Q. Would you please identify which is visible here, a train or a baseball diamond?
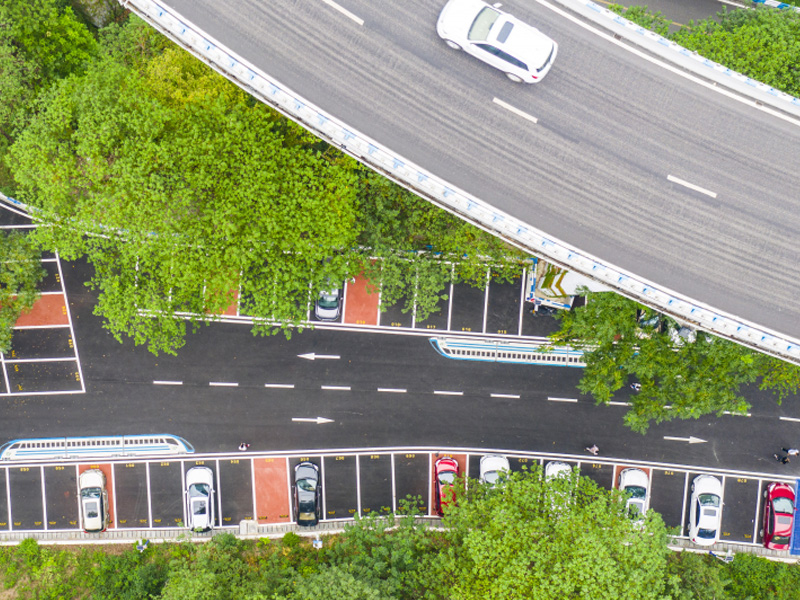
train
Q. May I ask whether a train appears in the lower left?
Yes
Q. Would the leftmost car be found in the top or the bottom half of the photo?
bottom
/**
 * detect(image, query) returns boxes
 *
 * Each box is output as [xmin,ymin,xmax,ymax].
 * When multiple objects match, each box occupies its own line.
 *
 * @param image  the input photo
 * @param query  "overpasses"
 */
[119,0,800,367]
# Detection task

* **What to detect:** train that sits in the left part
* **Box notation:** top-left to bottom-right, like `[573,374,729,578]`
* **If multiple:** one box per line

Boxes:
[0,430,194,462]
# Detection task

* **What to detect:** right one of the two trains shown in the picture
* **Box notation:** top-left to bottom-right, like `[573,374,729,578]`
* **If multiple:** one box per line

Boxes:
[430,338,617,374]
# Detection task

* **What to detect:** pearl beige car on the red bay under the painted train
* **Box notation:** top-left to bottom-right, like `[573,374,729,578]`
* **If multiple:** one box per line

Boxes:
[73,466,111,532]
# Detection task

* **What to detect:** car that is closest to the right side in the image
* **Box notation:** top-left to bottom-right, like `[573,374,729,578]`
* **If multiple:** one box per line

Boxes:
[758,481,798,550]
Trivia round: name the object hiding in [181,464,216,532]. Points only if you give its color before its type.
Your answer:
white car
